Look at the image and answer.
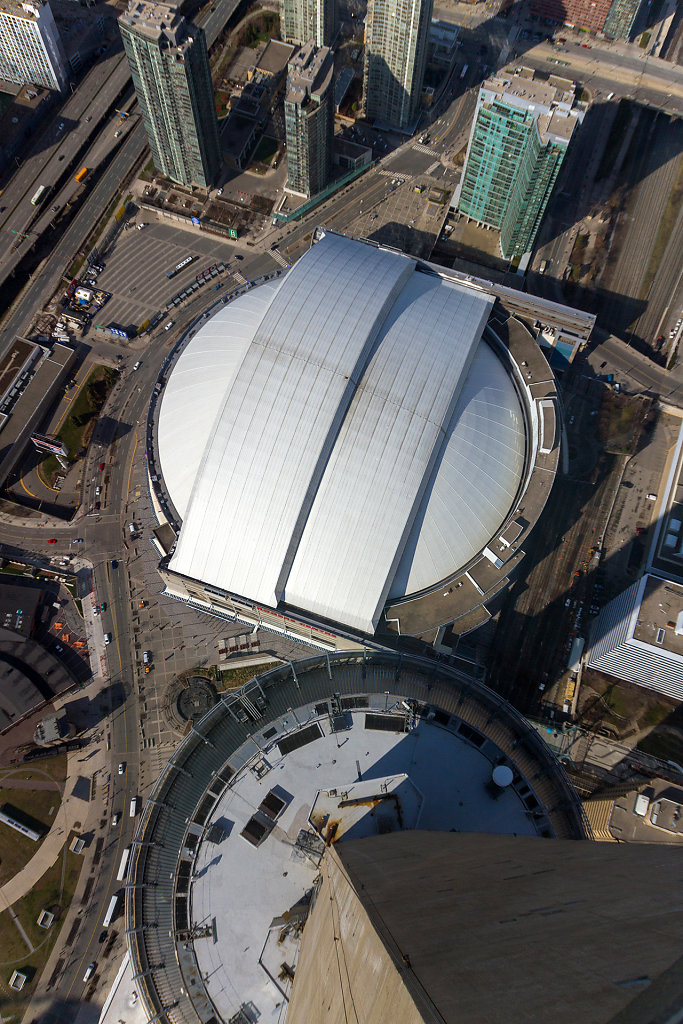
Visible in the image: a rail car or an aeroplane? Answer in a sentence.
Looking from above, you can make out a rail car.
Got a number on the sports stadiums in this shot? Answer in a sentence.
In total, there is 1 sports stadium in the scene.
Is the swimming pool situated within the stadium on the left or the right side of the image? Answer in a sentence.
The swimming pool situated within the stadium sits on the right side.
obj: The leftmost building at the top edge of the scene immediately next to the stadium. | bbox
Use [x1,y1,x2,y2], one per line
[120,0,226,194]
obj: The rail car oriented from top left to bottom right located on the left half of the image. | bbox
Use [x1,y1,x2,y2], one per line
[0,808,42,840]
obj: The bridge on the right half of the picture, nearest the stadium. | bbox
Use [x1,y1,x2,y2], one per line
[577,326,683,410]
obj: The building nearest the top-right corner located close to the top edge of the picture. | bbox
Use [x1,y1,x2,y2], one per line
[604,0,647,41]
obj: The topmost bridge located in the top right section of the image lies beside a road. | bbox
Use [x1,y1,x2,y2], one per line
[580,36,683,118]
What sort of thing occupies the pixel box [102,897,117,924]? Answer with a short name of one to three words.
vehicle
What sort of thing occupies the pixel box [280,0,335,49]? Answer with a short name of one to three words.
building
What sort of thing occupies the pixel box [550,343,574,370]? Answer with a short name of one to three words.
swimming pool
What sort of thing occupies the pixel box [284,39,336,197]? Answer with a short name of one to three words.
building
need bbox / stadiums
[145,229,596,684]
